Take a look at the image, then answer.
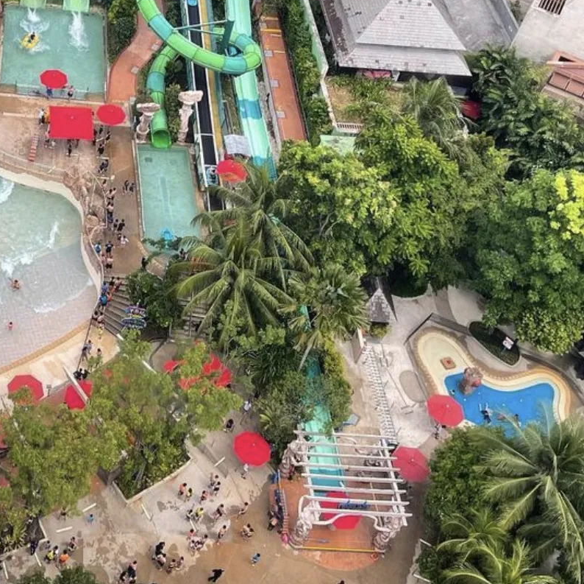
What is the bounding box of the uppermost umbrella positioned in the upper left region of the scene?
[39,71,67,92]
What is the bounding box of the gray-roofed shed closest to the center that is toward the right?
[357,280,392,343]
